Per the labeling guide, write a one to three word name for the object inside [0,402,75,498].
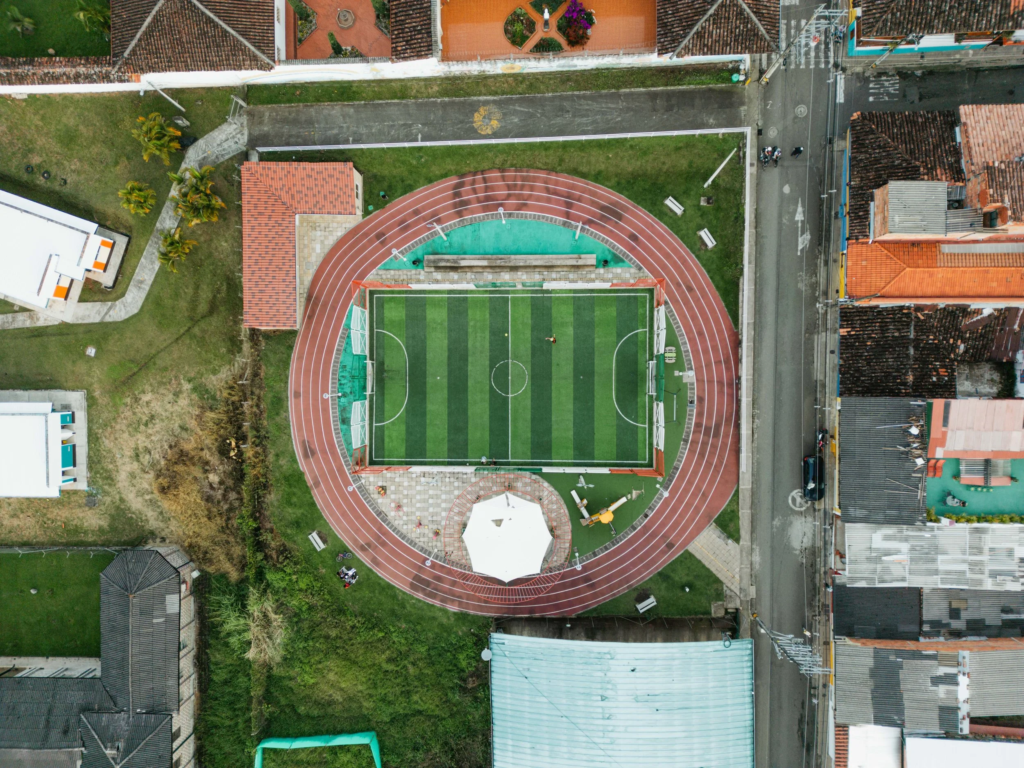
building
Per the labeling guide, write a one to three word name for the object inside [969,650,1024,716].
shed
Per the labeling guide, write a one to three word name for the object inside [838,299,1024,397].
house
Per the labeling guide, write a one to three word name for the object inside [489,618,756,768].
building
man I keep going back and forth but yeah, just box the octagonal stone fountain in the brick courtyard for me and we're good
[336,8,354,28]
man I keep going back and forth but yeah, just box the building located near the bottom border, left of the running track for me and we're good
[0,548,195,768]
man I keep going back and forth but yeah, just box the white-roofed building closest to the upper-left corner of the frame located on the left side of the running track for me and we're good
[0,190,131,308]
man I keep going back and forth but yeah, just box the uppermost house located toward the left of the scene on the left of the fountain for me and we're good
[110,0,285,86]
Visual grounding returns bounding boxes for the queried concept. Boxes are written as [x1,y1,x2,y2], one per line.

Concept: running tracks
[286,167,740,617]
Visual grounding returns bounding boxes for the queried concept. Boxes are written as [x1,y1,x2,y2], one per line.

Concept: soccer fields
[366,286,657,470]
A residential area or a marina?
residential area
